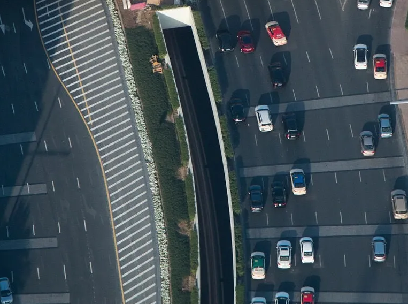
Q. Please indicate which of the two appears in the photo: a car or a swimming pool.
car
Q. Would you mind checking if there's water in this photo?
No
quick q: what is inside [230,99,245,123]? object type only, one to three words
car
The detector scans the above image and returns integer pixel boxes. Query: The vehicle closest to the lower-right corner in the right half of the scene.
[371,237,387,264]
